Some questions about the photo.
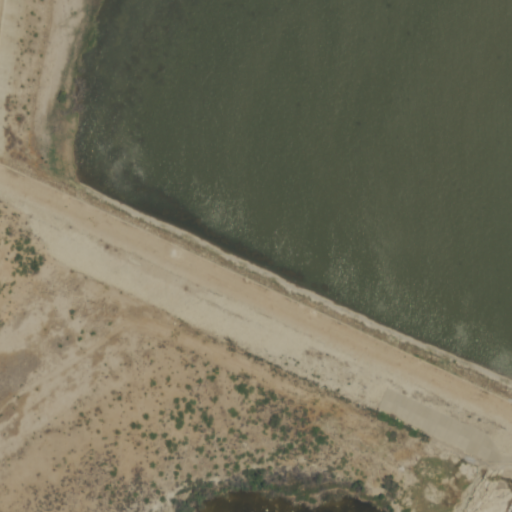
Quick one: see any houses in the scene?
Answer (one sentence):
No, the picture doesn't show any house.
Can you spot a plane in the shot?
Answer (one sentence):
No, there is no plane in the image.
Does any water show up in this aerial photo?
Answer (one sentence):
Yes, there's water in this view.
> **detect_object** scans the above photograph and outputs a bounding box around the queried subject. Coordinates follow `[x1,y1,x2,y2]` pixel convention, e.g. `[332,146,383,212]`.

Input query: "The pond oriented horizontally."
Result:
[199,490,381,512]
